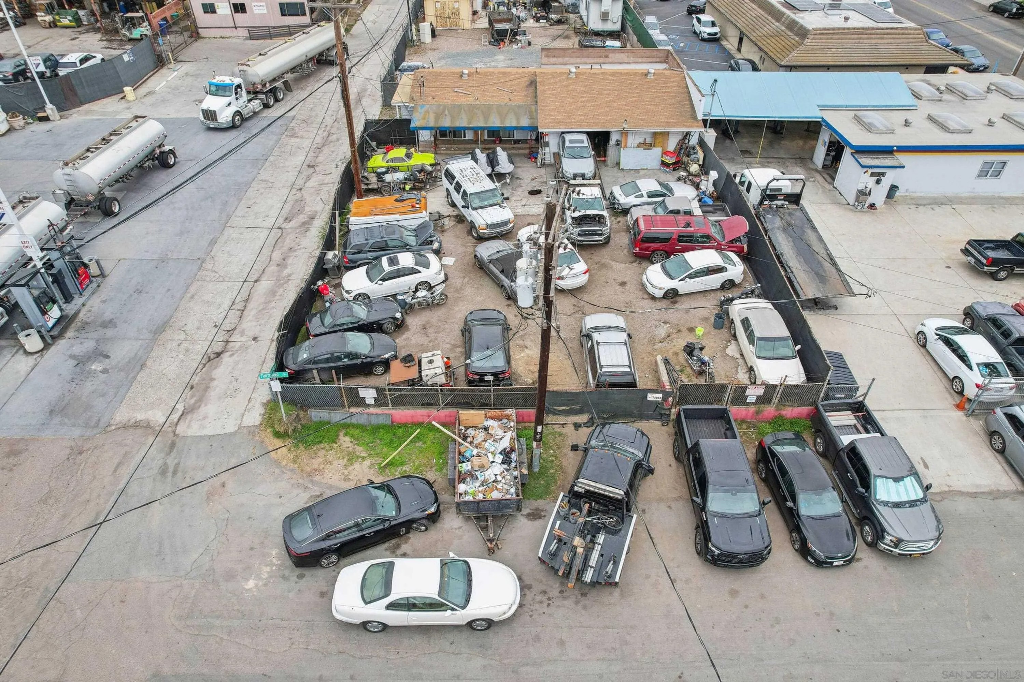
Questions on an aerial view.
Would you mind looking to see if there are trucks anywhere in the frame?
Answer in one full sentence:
Yes, there is a truck in the image.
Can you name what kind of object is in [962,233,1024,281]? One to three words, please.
truck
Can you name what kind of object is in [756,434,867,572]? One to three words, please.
car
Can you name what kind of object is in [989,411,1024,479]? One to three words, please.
car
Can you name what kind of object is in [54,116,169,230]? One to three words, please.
trailer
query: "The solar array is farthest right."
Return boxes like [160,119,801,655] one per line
[844,3,904,23]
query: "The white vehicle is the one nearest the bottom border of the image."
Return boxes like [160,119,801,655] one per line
[330,545,522,632]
